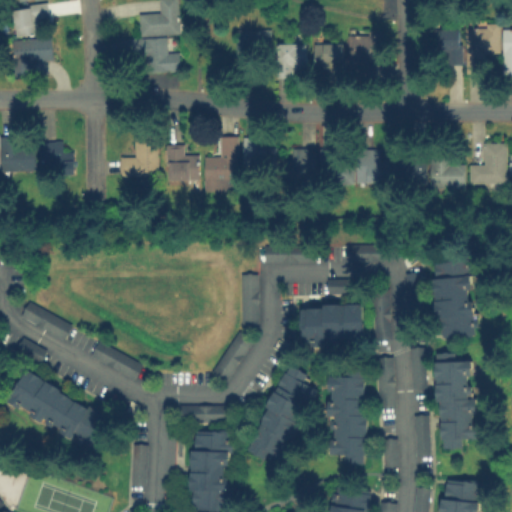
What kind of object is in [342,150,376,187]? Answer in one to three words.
house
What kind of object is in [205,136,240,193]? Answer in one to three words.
house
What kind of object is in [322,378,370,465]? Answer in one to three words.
building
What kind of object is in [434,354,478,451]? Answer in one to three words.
building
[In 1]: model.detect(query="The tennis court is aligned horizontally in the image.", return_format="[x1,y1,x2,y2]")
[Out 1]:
[18,470,113,512]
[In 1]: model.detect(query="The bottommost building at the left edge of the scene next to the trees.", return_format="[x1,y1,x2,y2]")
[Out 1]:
[8,372,96,442]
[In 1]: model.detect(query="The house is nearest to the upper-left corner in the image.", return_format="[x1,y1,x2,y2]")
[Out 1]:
[12,4,50,38]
